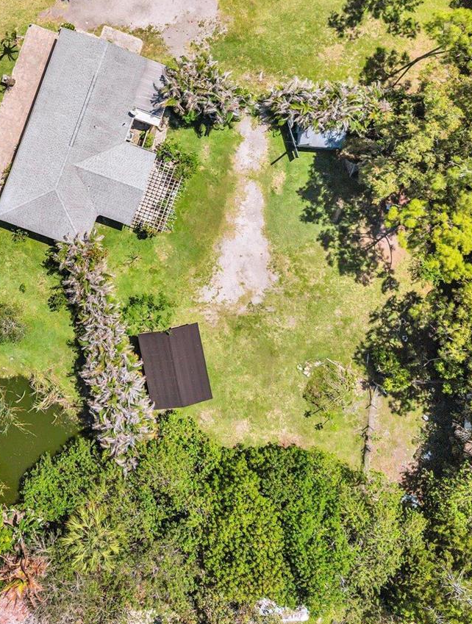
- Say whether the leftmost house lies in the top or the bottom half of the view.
top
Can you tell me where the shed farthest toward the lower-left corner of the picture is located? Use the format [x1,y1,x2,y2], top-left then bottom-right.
[138,322,212,409]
